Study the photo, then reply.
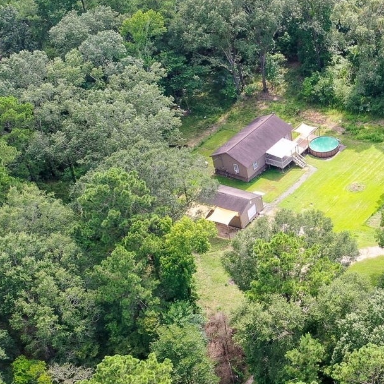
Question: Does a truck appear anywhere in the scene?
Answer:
No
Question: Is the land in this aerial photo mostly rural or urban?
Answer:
rural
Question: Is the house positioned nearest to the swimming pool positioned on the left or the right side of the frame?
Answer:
right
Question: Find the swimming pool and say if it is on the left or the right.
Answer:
right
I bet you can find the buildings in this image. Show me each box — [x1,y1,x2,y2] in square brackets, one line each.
[191,180,263,226]
[210,114,308,183]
